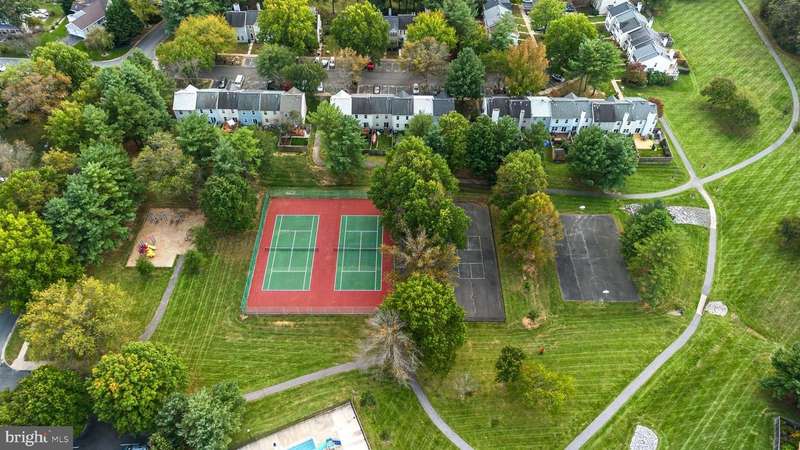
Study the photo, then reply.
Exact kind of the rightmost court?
basketball court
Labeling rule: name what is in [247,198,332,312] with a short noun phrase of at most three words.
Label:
tennis court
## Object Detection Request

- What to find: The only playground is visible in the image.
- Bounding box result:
[126,207,207,267]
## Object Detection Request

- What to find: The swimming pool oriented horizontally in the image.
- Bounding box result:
[238,403,370,450]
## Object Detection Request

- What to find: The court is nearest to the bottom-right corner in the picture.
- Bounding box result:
[544,213,637,301]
